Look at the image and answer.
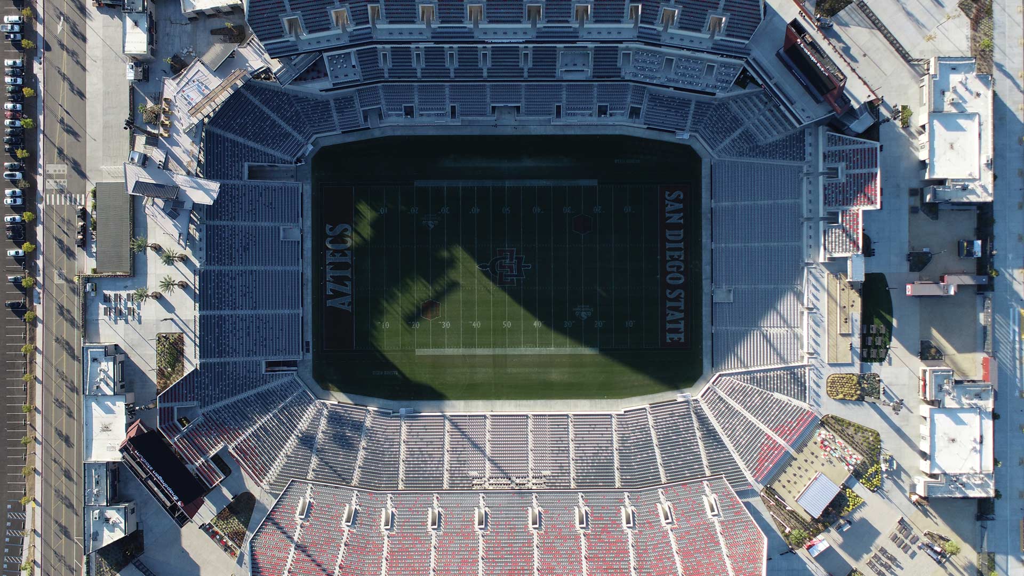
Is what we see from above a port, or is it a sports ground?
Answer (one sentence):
This looks like a sports ground.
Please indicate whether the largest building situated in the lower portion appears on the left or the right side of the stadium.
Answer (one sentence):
Relative to the stadium, the largest building situated in the lower portion lies to the right.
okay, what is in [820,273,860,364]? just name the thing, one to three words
building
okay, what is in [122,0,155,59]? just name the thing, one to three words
building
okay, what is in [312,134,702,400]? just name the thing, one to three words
sports field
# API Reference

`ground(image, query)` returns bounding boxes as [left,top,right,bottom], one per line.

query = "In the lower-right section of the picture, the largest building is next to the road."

[912,367,994,497]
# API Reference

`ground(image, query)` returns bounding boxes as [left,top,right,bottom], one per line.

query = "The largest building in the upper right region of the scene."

[912,57,993,204]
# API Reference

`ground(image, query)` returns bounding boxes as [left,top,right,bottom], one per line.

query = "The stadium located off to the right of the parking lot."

[156,0,822,576]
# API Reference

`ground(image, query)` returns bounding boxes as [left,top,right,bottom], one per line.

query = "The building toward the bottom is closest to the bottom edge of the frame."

[84,501,137,555]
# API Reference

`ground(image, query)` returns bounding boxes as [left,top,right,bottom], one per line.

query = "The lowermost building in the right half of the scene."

[790,469,840,517]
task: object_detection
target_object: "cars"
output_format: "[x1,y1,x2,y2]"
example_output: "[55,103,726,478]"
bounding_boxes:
[2,118,21,127]
[3,189,22,196]
[0,22,21,31]
[1,31,23,40]
[4,58,22,66]
[2,75,22,84]
[3,110,22,118]
[4,224,23,232]
[6,249,24,257]
[4,94,23,101]
[4,161,20,169]
[4,301,22,308]
[5,275,23,283]
[2,127,22,135]
[5,232,23,240]
[4,67,22,75]
[3,172,20,179]
[5,84,22,92]
[1,135,21,144]
[2,197,22,205]
[4,102,22,110]
[3,215,22,223]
